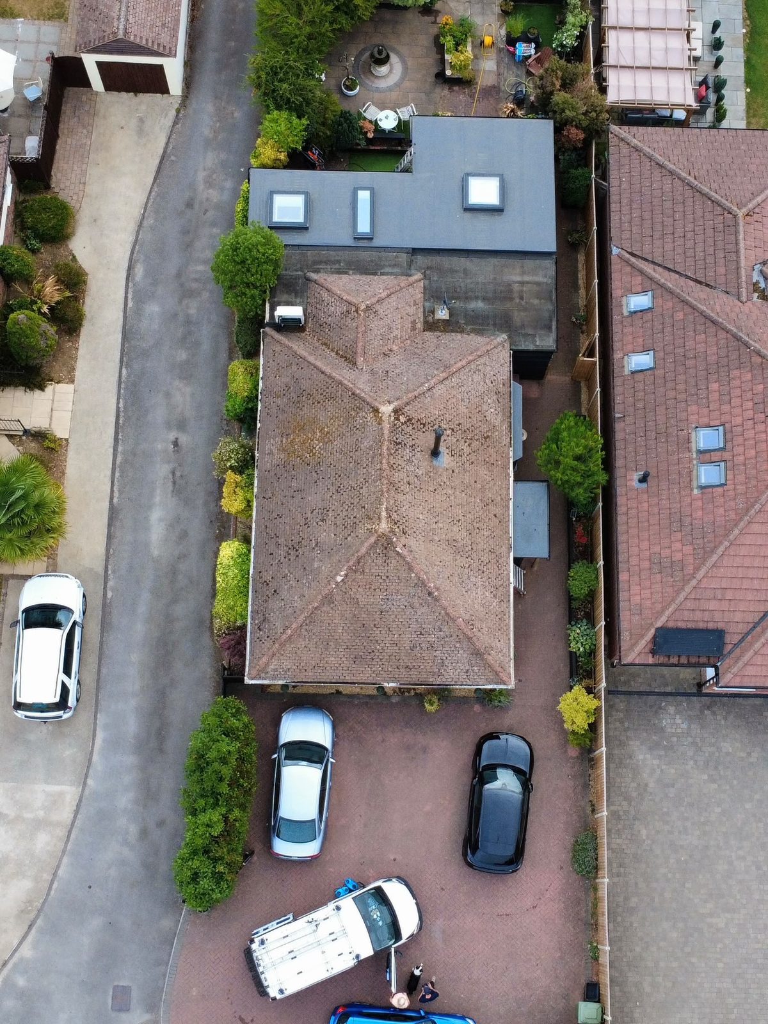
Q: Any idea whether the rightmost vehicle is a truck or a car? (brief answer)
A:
car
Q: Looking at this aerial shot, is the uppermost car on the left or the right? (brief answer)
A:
left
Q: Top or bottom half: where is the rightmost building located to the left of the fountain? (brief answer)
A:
top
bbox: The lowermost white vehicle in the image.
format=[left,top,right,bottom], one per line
[240,875,425,1002]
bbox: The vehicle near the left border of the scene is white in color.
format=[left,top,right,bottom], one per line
[6,575,87,725]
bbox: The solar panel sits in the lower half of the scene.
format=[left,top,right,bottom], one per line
[654,629,726,665]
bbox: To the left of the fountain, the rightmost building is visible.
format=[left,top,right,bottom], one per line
[77,0,188,96]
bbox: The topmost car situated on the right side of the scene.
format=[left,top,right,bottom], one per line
[462,732,546,874]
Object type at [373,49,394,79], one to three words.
fountain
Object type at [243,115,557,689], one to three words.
house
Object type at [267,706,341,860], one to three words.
car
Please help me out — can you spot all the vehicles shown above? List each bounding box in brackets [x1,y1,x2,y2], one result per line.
[462,732,546,874]
[6,575,87,725]
[332,1002,471,1024]
[240,875,425,1002]
[267,706,341,860]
